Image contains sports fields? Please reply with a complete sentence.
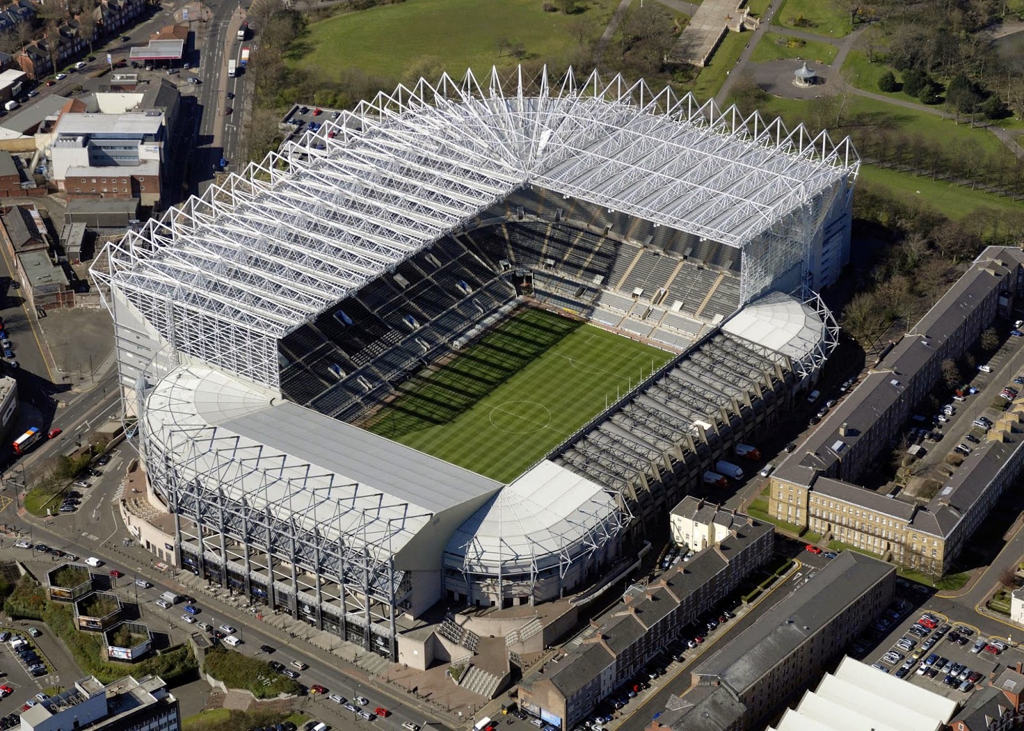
Yes, this view includes a sports field.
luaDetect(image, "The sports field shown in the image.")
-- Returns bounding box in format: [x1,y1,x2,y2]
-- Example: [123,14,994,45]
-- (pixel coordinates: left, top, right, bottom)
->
[354,305,680,532]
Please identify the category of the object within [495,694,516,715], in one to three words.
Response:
truck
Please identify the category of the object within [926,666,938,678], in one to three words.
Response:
vehicle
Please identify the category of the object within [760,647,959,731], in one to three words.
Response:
building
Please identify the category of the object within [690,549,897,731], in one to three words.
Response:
warehouse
